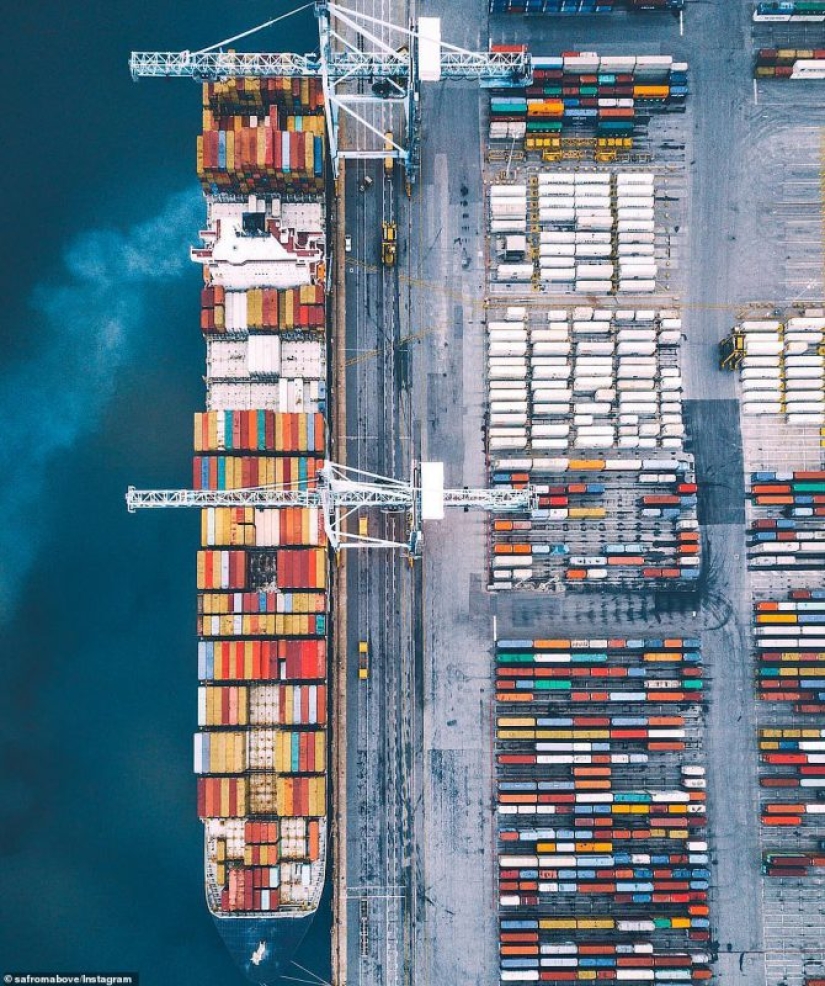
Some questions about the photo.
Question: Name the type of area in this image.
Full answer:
It's a port.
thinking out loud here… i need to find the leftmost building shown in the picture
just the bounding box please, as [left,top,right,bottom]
[500,235,526,255]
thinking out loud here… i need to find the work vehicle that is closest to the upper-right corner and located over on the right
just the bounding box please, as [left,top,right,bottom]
[722,329,746,369]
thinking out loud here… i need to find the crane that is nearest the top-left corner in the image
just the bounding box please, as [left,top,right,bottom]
[131,5,529,188]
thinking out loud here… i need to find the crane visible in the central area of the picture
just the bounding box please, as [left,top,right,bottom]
[120,458,535,565]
